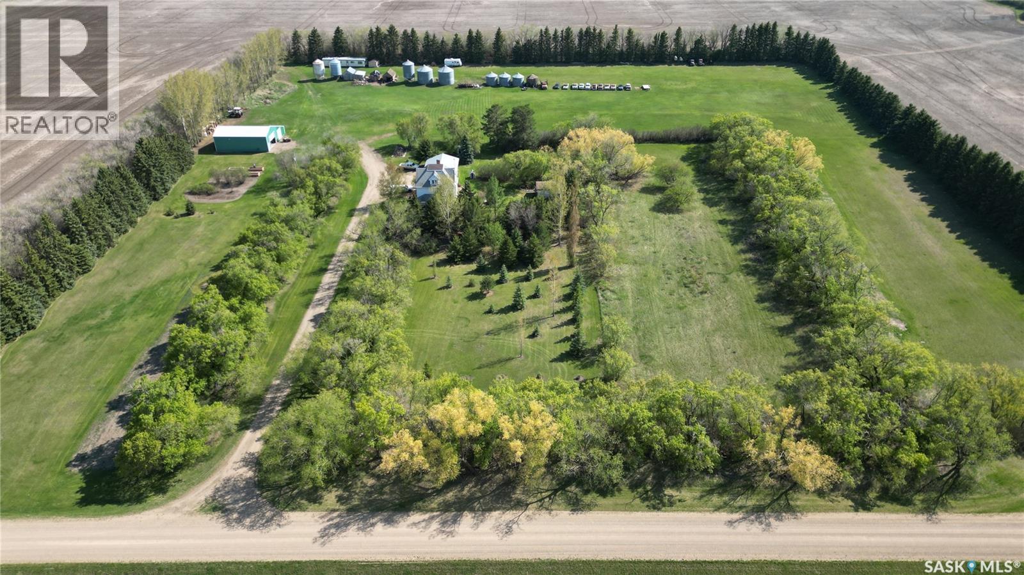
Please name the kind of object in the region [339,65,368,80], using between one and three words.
shed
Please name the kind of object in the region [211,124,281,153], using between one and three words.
shed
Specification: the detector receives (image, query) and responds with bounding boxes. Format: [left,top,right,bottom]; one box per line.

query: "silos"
[486,70,498,86]
[417,63,433,84]
[329,54,342,75]
[438,63,454,84]
[512,70,524,86]
[499,70,511,86]
[402,57,415,79]
[311,55,325,78]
